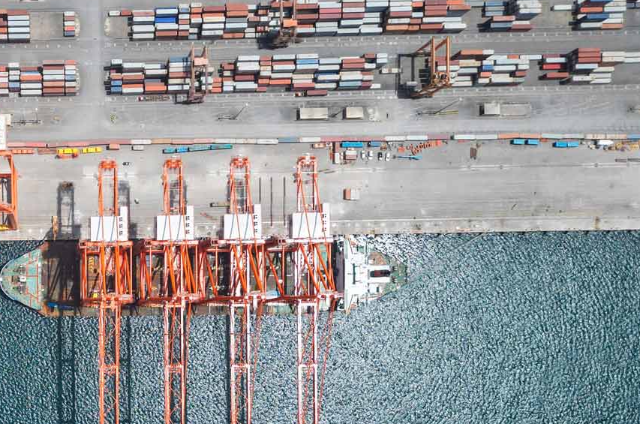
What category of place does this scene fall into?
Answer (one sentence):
This image shows a port.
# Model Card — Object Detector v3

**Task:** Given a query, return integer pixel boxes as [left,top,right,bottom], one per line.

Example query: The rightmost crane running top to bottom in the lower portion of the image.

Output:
[251,156,342,424]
